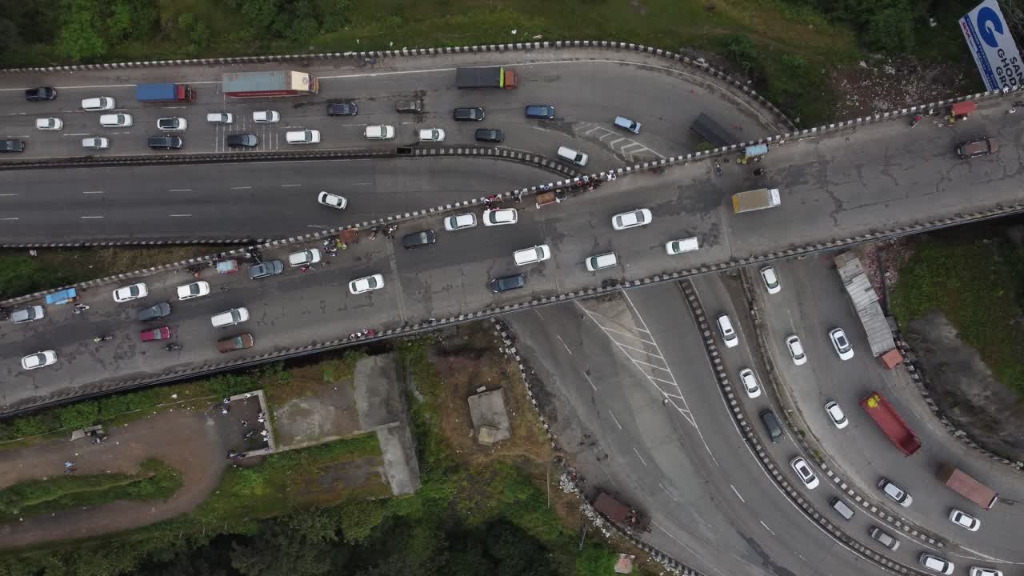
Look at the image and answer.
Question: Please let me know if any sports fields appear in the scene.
No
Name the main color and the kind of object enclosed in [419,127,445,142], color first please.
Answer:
white car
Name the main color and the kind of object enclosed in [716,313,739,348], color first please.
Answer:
white car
